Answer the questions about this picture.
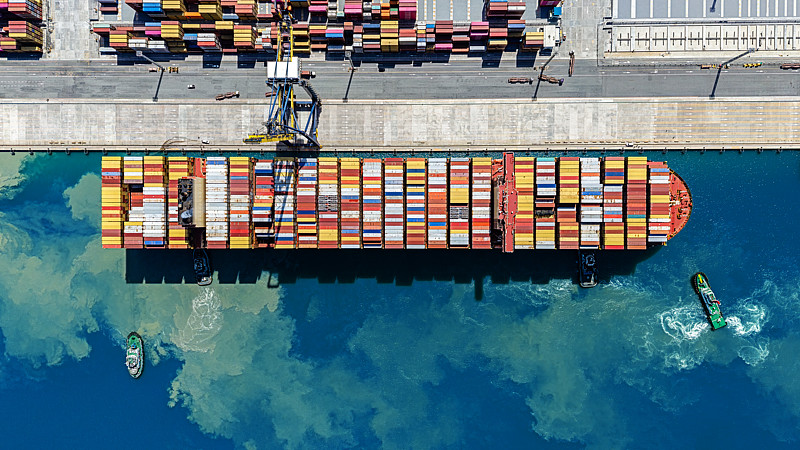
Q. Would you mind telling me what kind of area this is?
port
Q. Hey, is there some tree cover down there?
No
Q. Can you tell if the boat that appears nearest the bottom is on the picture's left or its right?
left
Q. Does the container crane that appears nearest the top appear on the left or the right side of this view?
left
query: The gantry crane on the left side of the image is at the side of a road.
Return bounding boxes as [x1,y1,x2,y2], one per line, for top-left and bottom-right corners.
[235,11,321,148]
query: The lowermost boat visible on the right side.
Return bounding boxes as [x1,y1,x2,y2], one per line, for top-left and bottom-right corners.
[695,271,728,332]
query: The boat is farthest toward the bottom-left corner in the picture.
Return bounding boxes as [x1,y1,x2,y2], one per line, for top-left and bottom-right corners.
[123,332,144,380]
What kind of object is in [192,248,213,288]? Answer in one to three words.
boat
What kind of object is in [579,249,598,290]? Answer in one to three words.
boat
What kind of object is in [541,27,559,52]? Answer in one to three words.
shed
